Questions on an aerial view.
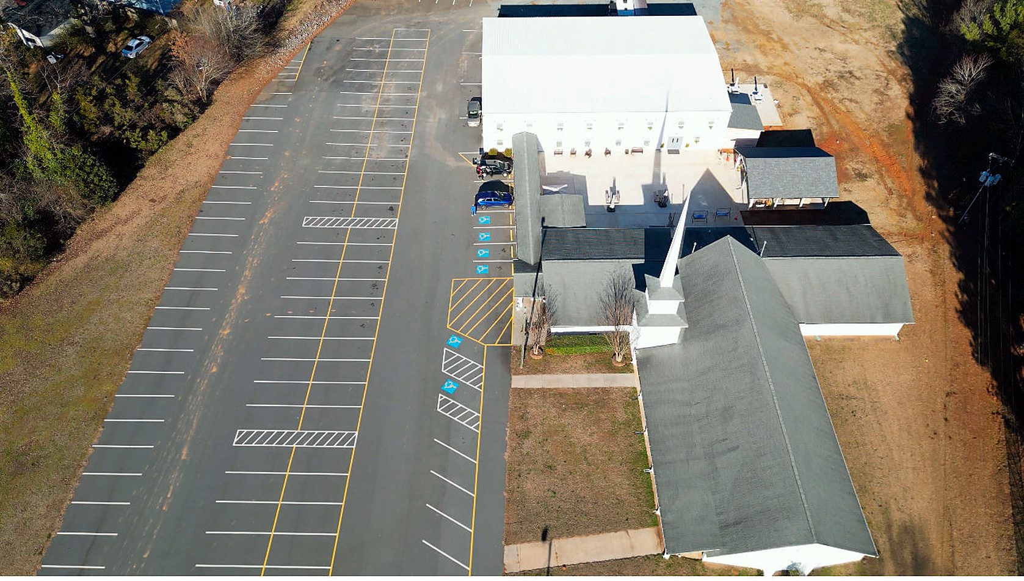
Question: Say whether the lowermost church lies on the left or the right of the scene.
right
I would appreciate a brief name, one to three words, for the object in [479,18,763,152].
building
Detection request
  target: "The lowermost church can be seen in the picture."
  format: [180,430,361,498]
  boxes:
[513,195,914,581]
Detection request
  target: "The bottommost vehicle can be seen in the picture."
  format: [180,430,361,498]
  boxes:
[475,187,514,206]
